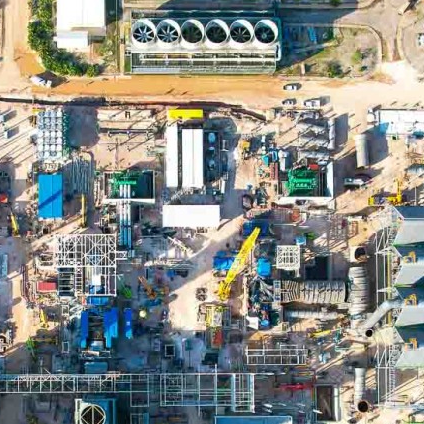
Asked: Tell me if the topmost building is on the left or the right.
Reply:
left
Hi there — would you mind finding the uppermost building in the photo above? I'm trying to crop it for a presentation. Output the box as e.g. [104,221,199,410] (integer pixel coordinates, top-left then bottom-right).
[56,0,105,38]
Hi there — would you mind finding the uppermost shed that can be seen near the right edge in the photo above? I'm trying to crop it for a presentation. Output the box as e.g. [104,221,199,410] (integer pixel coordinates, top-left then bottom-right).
[379,110,424,139]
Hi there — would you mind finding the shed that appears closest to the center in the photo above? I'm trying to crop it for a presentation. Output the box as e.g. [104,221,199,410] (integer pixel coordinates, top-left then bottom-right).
[161,205,220,232]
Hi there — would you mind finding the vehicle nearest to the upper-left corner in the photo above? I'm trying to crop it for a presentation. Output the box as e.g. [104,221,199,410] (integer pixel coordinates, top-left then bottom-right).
[30,74,50,88]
